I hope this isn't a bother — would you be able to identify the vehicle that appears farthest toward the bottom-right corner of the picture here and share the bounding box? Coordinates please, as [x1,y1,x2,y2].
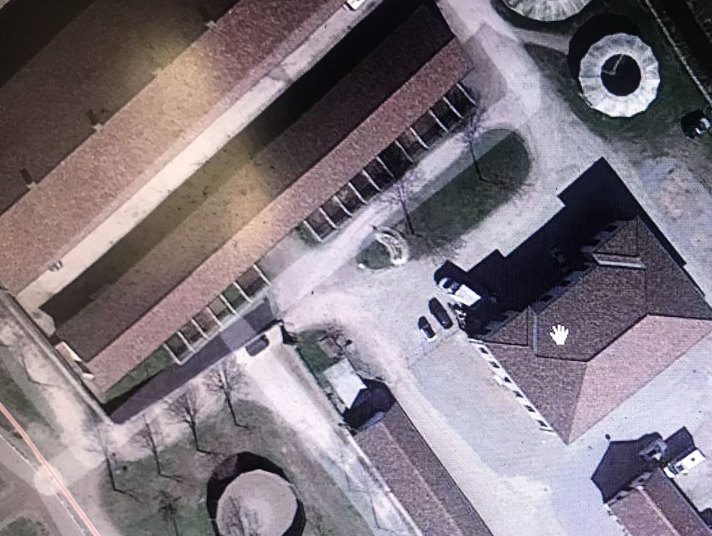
[662,448,706,477]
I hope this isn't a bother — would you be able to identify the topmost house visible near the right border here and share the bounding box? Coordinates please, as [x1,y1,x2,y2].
[466,215,712,444]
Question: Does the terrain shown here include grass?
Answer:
Yes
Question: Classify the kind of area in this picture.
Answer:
industrial area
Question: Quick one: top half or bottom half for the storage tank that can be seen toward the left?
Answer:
bottom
